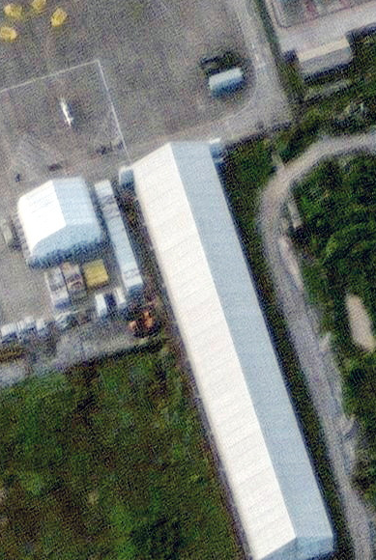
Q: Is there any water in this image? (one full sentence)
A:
No, there is no water in the image.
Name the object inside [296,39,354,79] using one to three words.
building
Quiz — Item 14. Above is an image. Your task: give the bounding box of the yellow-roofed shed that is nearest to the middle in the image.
[84,260,108,287]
